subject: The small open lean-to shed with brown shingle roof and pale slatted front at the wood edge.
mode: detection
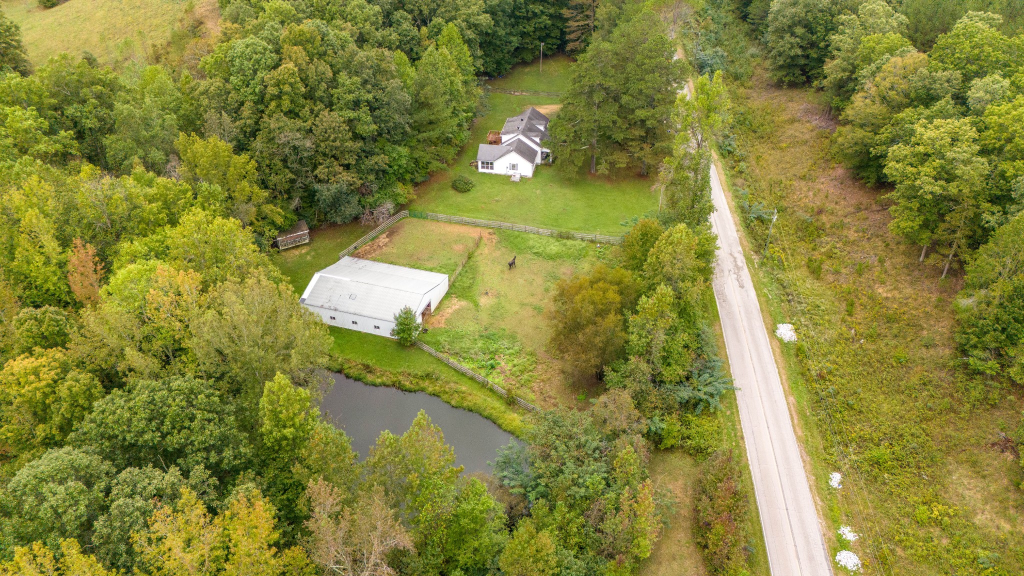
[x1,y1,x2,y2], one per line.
[272,221,311,250]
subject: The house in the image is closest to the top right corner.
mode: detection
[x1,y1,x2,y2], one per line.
[476,107,562,177]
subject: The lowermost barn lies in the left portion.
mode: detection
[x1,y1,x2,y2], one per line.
[296,256,449,337]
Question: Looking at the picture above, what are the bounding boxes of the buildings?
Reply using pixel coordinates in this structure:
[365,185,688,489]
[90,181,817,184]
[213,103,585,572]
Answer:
[272,221,311,250]
[476,107,562,177]
[296,256,449,337]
